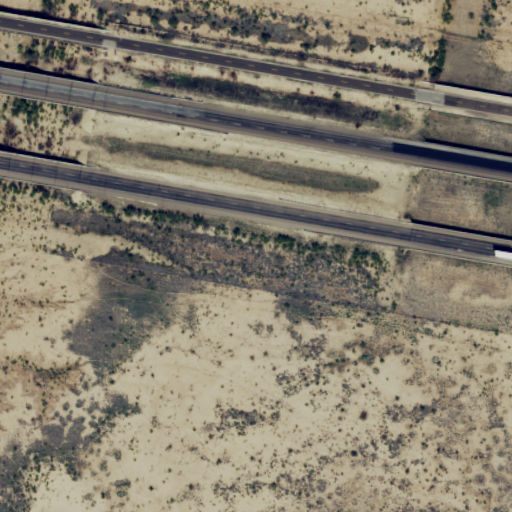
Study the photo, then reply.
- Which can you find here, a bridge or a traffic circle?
bridge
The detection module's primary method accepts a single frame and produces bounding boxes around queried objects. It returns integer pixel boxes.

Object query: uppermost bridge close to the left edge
[0,12,104,49]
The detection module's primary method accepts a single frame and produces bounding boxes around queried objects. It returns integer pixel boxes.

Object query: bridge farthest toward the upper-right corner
[430,84,512,126]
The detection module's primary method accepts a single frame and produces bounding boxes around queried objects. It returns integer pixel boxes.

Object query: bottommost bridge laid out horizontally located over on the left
[0,151,84,192]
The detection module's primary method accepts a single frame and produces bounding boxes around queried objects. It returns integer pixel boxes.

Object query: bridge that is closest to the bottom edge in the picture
[408,222,512,268]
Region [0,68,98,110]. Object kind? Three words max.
bridge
